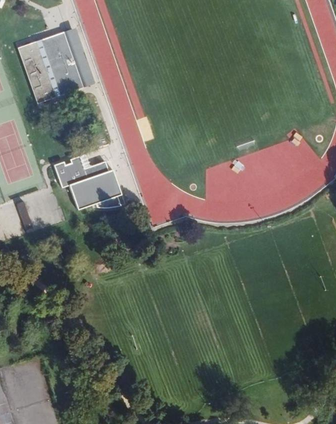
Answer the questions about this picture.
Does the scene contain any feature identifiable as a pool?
No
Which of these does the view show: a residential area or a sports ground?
sports ground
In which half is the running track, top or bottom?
top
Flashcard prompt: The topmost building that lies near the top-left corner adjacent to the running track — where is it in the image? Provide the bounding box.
[18,28,95,104]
